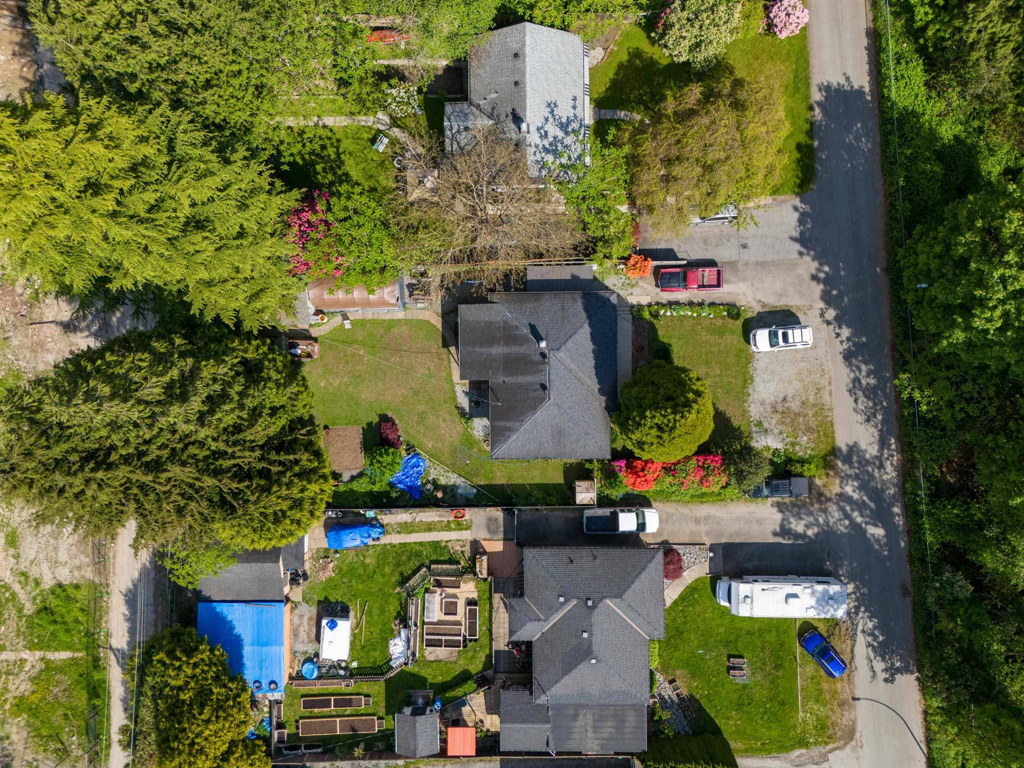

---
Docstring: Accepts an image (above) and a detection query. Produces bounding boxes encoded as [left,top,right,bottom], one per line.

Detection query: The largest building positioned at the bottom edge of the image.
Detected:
[499,546,667,756]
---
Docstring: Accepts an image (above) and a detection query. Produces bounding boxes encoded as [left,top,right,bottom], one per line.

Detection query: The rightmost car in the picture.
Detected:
[797,626,848,681]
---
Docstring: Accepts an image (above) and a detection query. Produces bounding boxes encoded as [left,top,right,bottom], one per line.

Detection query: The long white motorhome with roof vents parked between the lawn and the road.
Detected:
[713,571,847,618]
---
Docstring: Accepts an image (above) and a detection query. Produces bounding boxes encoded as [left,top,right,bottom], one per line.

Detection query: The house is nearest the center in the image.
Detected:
[457,290,618,462]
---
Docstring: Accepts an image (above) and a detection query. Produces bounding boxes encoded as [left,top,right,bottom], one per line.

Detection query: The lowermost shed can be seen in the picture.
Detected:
[395,705,439,757]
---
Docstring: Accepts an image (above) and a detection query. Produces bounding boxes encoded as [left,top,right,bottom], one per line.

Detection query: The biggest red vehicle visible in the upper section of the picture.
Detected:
[659,264,728,292]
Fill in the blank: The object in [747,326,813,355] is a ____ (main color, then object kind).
white car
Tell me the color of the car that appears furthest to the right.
blue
